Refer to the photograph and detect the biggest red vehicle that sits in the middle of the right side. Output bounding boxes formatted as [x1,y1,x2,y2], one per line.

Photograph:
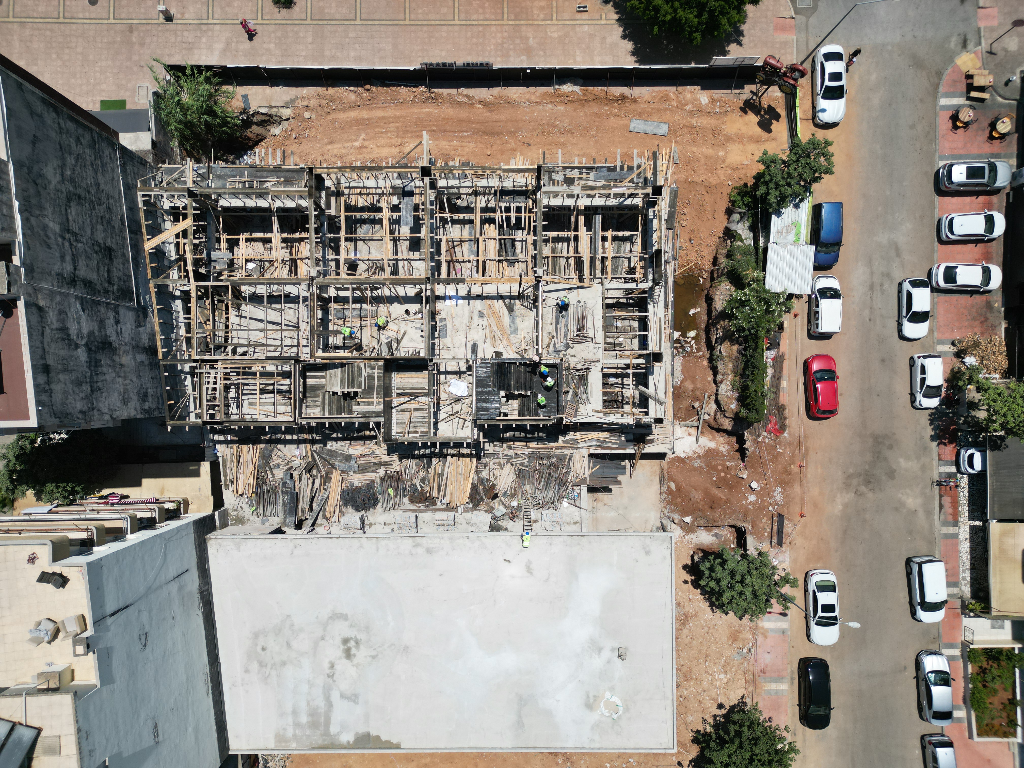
[802,354,841,418]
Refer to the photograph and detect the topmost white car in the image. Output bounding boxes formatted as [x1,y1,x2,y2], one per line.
[808,44,850,129]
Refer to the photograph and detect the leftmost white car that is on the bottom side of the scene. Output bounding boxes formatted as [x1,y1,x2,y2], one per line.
[801,567,843,644]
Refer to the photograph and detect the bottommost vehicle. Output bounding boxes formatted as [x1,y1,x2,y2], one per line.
[918,728,958,768]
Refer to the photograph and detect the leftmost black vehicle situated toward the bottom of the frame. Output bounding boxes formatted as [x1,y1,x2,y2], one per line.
[795,653,836,728]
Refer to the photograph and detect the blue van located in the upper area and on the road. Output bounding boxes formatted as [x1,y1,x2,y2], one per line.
[811,200,848,270]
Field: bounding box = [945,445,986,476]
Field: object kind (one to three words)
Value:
car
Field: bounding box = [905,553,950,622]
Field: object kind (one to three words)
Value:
vehicle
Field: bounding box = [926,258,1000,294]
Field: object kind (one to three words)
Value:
car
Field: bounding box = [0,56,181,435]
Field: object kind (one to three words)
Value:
building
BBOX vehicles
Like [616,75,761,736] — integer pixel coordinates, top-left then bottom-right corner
[918,728,958,768]
[808,44,850,129]
[934,207,1005,244]
[802,354,841,418]
[941,381,961,410]
[905,353,946,410]
[926,258,1000,294]
[801,567,843,644]
[795,653,836,728]
[945,445,986,476]
[807,275,848,339]
[753,56,809,102]
[934,156,1010,195]
[894,278,935,341]
[912,646,956,726]
[905,553,950,622]
[811,200,848,270]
